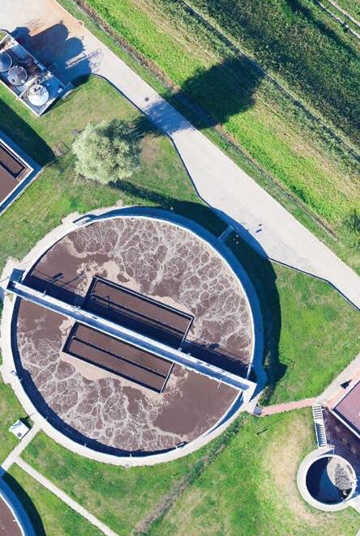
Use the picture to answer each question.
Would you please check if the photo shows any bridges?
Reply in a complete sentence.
Yes, the picture does show a bridge.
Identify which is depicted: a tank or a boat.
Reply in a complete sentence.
The one in the frame is a tank.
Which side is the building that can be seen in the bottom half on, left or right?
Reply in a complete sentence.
It is on the right.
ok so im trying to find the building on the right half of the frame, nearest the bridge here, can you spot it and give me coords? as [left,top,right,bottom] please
[330,376,360,434]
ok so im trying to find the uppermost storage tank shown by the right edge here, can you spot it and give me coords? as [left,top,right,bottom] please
[298,447,360,510]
